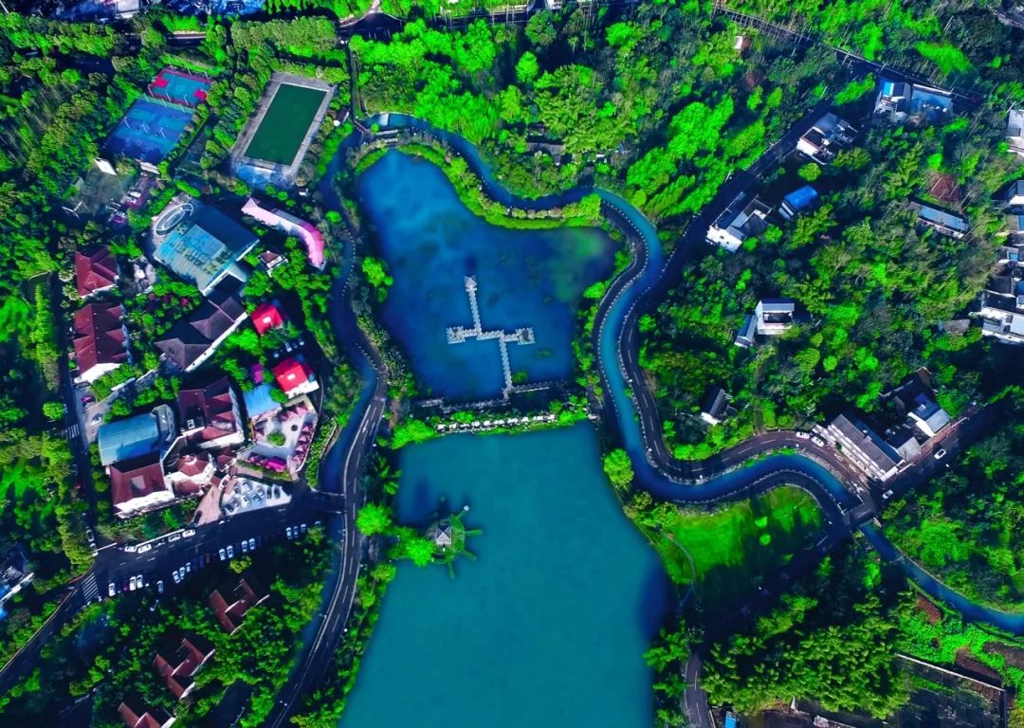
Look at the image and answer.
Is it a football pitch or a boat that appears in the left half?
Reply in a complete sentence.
There is a football pitch in the left half.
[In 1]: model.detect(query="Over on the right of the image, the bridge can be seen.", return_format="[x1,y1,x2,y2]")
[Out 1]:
[829,494,884,538]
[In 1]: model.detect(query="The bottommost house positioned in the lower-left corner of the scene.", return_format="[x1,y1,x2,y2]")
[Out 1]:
[118,693,179,728]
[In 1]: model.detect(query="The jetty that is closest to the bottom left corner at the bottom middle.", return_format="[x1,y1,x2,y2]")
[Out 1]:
[441,499,481,577]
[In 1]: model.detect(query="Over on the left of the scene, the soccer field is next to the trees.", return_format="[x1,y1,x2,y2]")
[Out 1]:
[232,72,335,177]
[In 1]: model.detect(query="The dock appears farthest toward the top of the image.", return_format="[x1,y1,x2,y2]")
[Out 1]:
[447,290,535,390]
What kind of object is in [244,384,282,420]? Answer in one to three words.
shed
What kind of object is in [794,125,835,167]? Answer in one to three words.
house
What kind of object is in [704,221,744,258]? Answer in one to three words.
house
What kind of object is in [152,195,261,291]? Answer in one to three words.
building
